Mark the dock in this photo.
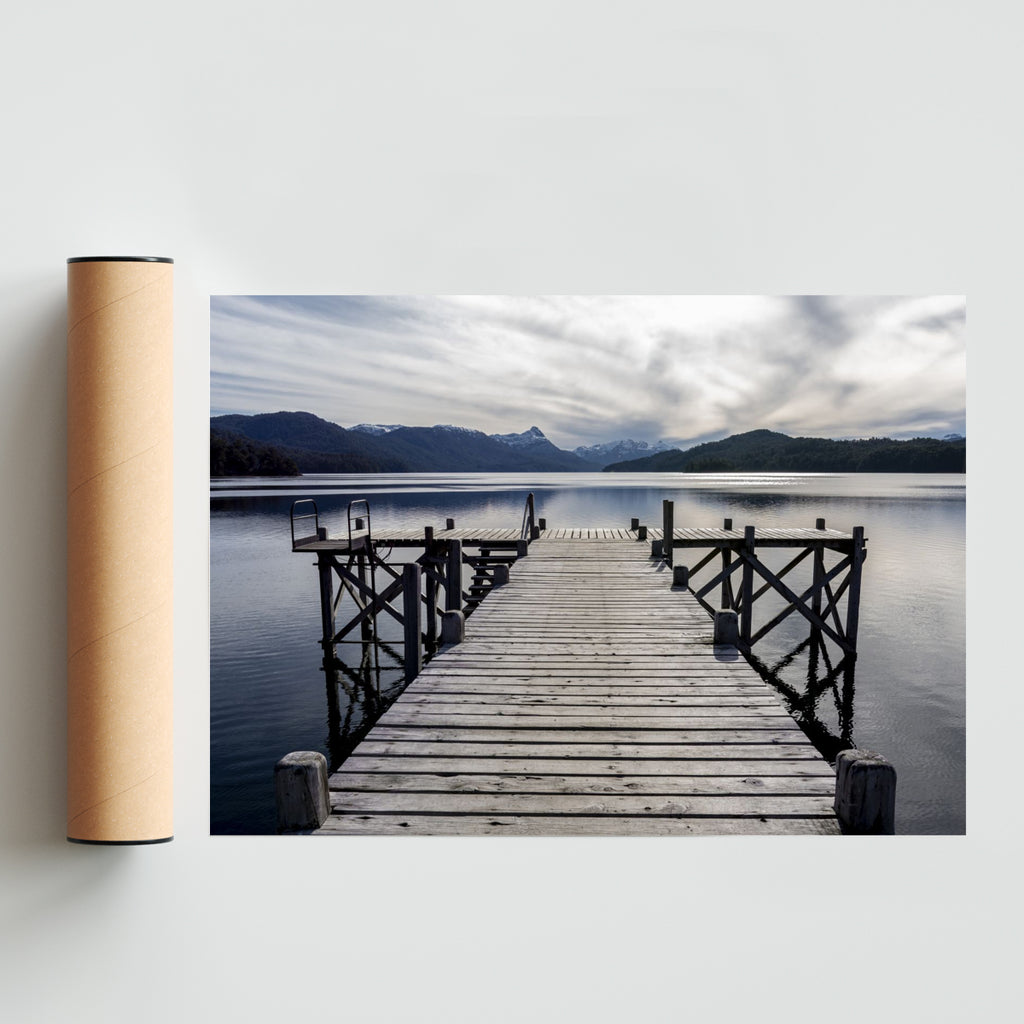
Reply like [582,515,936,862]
[274,492,897,835]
